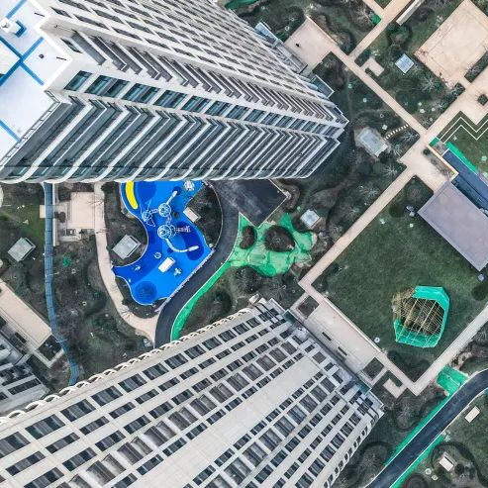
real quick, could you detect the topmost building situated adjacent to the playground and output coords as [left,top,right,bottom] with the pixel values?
[0,0,345,175]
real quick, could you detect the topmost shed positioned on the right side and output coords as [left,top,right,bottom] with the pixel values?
[359,127,391,155]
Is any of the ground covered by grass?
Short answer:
Yes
